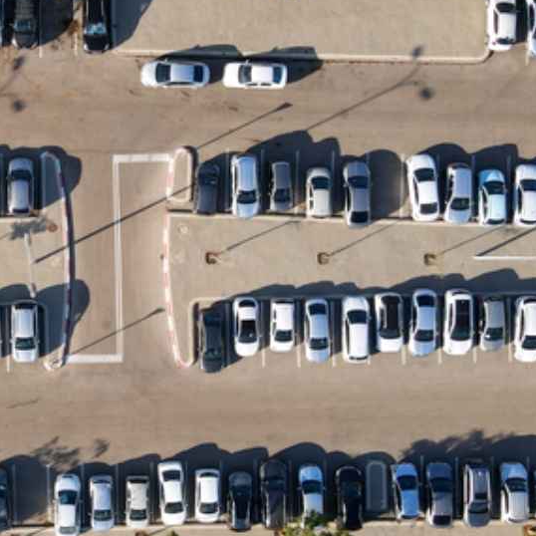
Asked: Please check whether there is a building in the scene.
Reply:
No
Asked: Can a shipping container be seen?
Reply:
No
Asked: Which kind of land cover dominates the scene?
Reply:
paved ground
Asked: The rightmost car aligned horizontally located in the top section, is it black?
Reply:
No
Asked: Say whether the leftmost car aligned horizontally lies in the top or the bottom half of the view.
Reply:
top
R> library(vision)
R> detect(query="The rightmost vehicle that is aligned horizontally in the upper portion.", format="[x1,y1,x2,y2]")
[224,60,287,89]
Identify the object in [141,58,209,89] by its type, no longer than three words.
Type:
car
